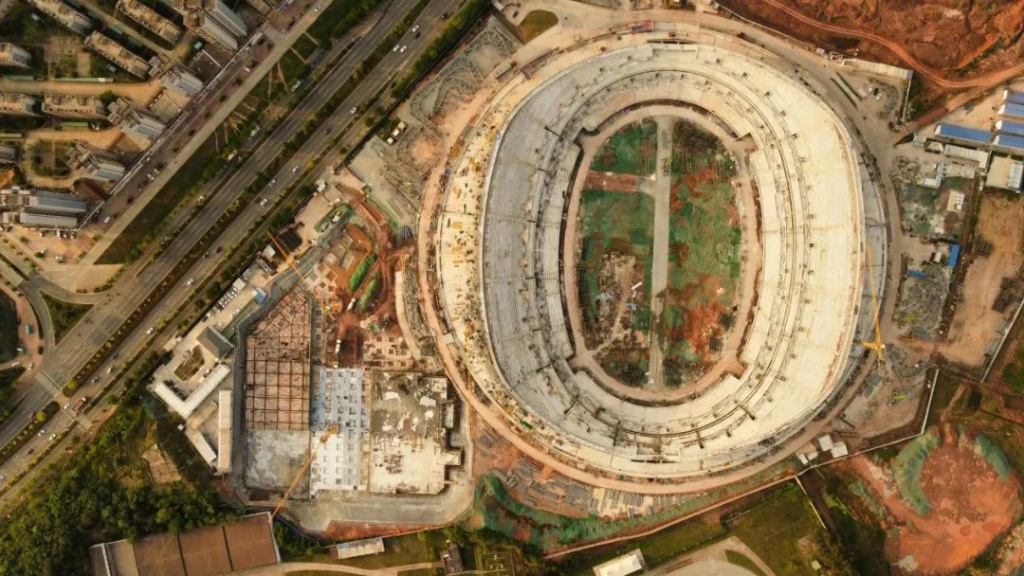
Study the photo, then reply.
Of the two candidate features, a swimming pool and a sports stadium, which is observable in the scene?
sports stadium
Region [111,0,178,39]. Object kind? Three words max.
building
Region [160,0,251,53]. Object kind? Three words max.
building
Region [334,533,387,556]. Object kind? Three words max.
shed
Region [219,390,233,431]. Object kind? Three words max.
house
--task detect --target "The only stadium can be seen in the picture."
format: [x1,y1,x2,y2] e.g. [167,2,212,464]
[440,22,887,477]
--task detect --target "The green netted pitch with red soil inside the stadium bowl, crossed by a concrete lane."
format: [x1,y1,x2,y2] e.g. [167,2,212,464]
[578,114,744,391]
